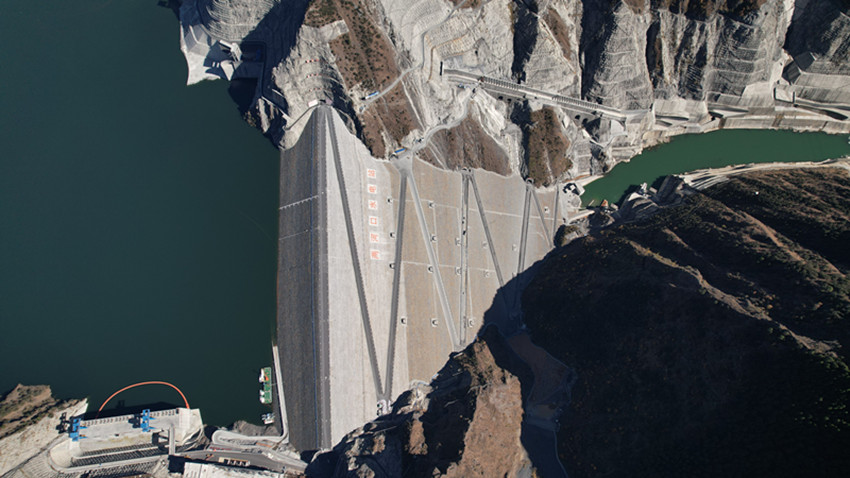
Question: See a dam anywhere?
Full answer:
Yes, the image includes a dam.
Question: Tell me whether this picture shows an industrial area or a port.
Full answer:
It's a port.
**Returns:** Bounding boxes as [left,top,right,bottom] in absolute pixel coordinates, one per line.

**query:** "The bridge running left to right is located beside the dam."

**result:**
[444,69,626,126]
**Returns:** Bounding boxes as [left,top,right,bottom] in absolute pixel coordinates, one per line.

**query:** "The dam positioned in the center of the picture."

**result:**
[276,104,571,447]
